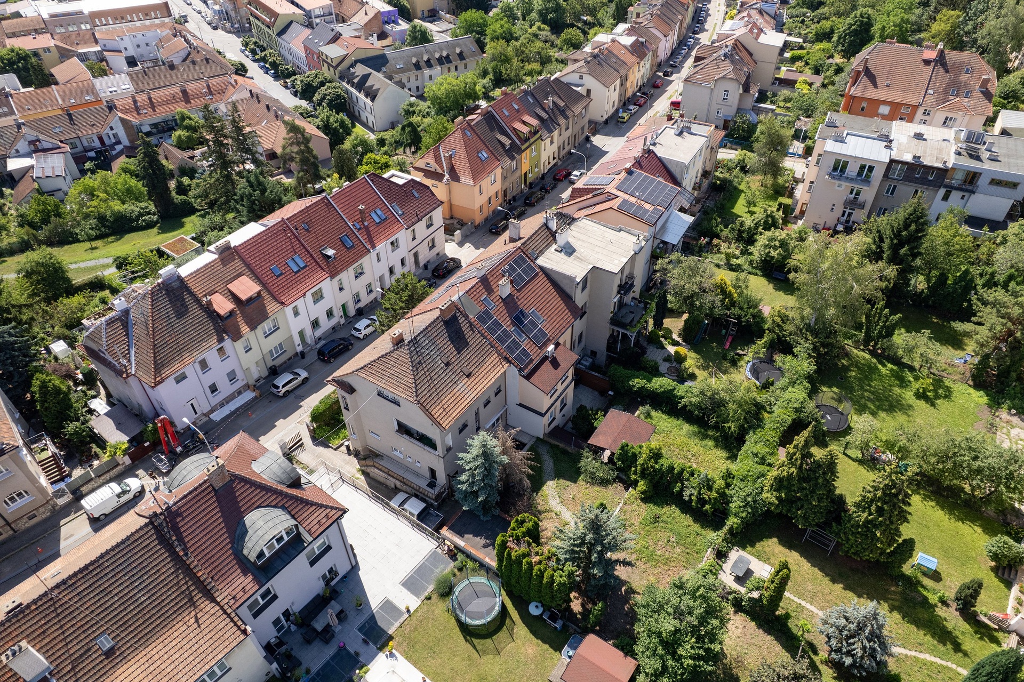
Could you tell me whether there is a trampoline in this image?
Yes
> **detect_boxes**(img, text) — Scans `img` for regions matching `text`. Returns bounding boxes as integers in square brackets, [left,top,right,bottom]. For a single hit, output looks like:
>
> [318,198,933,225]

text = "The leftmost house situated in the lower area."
[0,426,50,524]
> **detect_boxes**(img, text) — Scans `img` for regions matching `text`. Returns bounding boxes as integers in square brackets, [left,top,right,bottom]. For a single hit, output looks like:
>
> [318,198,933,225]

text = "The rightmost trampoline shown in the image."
[816,390,861,436]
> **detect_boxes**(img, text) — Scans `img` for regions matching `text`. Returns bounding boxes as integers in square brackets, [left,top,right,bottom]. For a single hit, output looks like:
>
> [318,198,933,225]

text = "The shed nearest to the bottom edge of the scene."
[561,634,634,682]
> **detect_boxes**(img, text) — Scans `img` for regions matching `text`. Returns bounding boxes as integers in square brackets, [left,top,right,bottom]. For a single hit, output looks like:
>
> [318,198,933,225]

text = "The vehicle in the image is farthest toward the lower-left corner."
[81,481,143,522]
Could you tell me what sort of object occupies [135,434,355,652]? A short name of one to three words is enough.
house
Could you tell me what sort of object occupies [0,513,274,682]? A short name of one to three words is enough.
house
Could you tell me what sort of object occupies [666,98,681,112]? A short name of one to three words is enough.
vehicle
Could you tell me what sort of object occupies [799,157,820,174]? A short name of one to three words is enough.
car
